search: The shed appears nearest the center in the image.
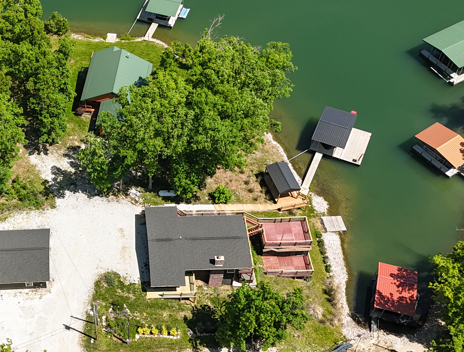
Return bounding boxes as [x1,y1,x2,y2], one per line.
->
[263,163,300,201]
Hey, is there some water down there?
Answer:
Yes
